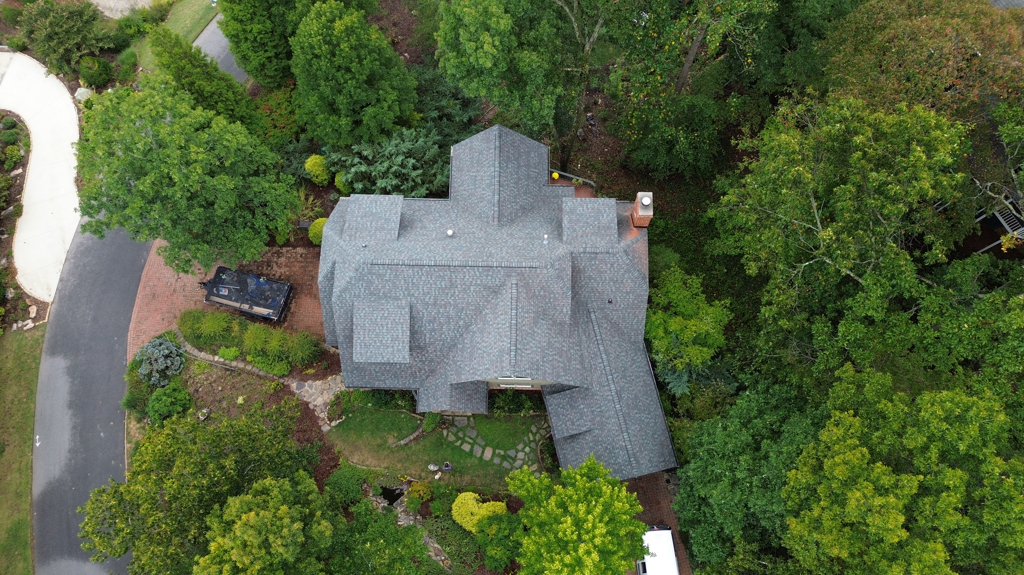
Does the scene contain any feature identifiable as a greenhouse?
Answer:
No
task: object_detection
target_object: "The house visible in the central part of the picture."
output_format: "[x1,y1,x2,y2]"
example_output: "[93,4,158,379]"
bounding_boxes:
[318,125,681,489]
